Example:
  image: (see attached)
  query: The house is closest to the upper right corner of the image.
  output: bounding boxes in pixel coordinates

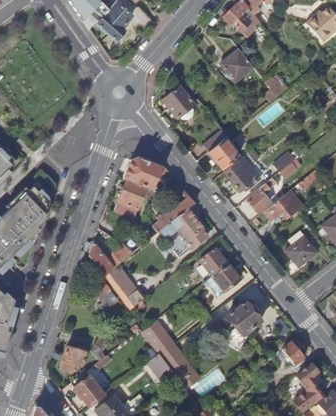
[306,4,336,41]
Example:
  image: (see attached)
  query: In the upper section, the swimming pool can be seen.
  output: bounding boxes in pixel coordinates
[257,103,285,126]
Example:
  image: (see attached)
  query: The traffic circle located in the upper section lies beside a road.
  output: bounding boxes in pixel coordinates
[89,53,168,157]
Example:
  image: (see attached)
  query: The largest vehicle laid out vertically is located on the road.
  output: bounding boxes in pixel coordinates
[52,280,66,310]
